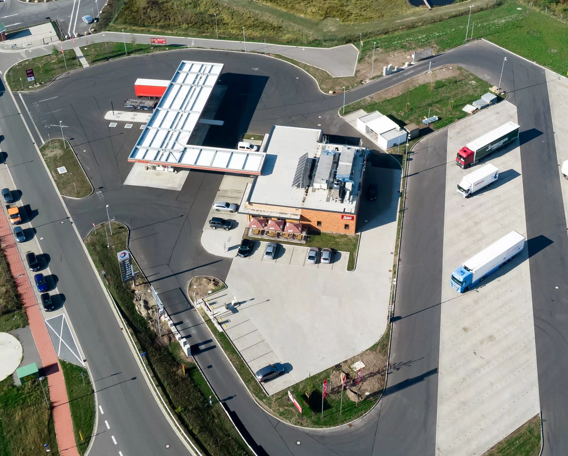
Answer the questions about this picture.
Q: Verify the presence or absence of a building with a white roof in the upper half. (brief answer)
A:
Yes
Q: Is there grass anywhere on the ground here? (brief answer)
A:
Yes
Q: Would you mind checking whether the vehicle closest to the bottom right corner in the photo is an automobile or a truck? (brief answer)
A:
truck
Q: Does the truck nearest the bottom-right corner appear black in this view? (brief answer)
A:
No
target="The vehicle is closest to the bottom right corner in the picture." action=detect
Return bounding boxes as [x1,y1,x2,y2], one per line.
[451,230,525,293]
